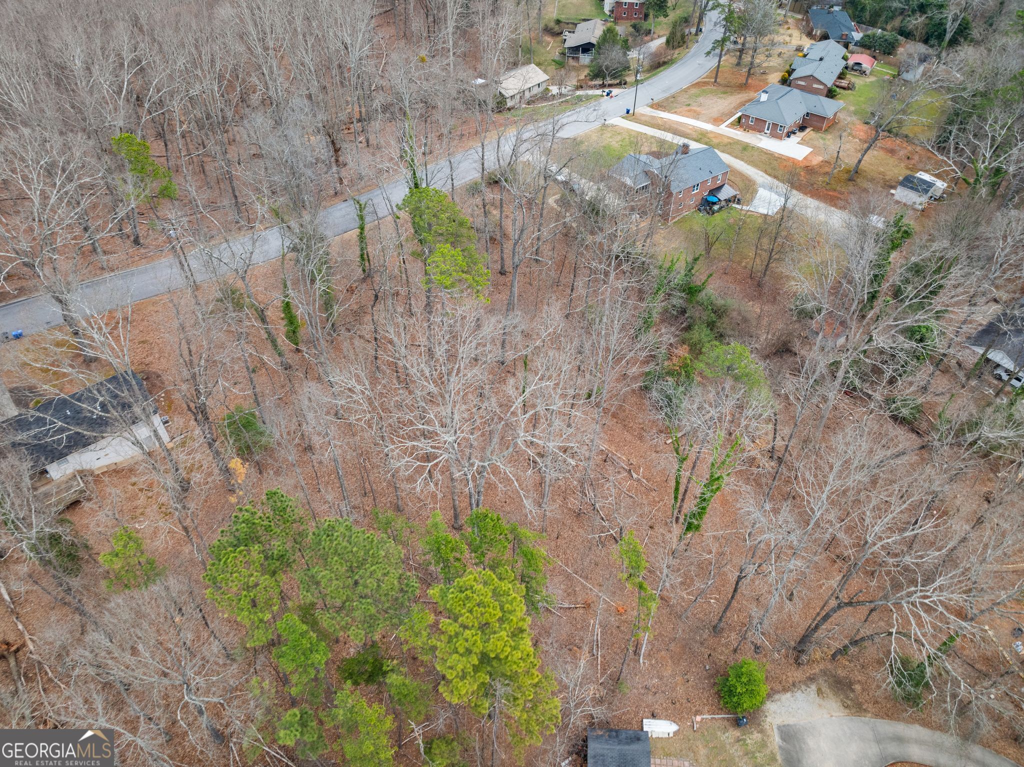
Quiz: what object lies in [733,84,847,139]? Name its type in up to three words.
house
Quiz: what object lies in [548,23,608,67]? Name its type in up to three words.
house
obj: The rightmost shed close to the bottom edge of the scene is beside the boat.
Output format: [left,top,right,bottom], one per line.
[588,727,657,767]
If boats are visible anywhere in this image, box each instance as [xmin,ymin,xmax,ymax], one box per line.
[643,715,680,733]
